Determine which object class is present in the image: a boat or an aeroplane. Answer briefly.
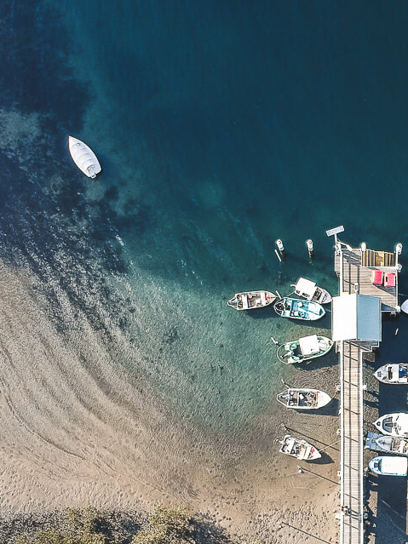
boat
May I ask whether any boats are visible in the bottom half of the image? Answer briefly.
Yes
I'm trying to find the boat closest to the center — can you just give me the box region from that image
[224,291,278,311]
